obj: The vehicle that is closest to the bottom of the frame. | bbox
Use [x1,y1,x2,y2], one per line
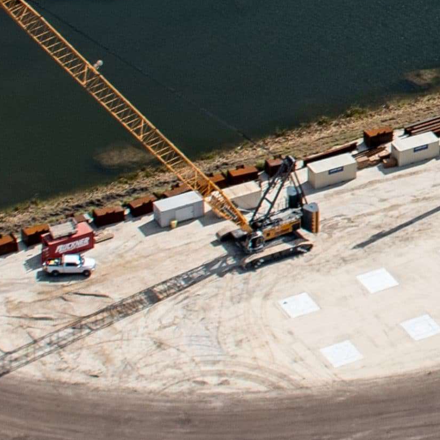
[46,256,97,276]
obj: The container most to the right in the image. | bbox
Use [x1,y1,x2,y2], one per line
[391,130,439,166]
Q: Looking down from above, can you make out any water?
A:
Yes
